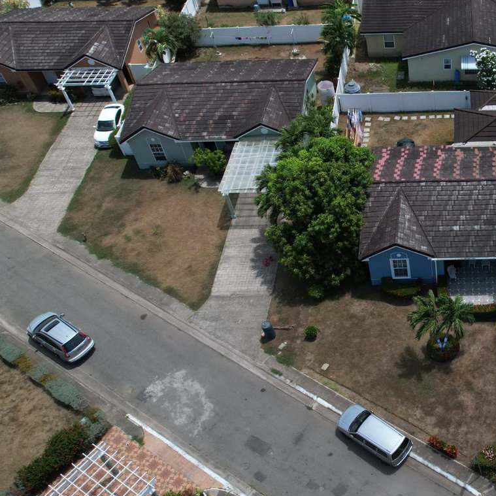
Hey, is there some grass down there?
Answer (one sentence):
Yes, grass shows up in the scene.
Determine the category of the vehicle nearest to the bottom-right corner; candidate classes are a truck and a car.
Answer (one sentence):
The vehicle nearest to the bottom-right corner can be classified as a car.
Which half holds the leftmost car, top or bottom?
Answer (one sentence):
It is in the bottom half that the leftmost car appears.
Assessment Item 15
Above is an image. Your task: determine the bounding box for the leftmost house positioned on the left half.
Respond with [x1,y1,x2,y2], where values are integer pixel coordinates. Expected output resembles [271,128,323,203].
[0,5,165,93]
